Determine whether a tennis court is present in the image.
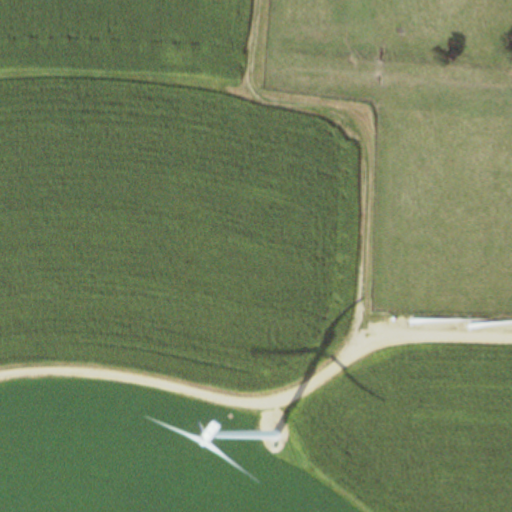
No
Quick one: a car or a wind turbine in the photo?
wind turbine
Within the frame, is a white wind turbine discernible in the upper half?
No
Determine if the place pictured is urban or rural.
rural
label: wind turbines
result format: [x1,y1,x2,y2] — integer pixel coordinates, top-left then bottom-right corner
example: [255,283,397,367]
[148,417,282,485]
